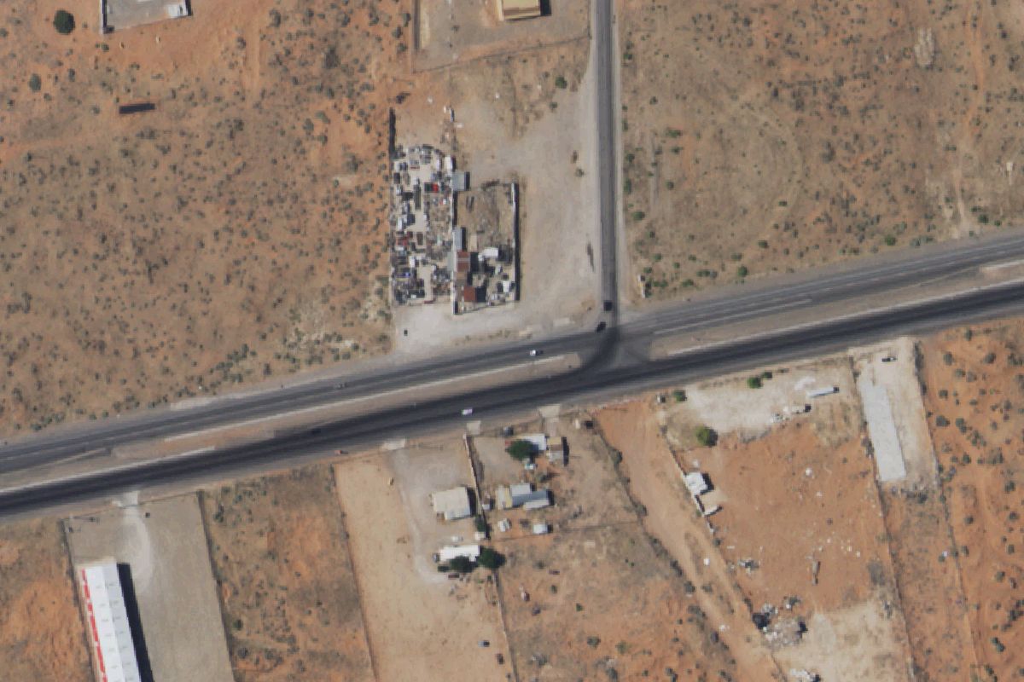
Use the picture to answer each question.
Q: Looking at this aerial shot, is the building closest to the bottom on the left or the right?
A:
left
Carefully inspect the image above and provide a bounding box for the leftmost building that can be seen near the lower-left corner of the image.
[82,560,142,682]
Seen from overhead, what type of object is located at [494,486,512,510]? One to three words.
shed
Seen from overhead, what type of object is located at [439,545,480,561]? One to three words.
house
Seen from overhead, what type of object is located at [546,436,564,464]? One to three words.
shed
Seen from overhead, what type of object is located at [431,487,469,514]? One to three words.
building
